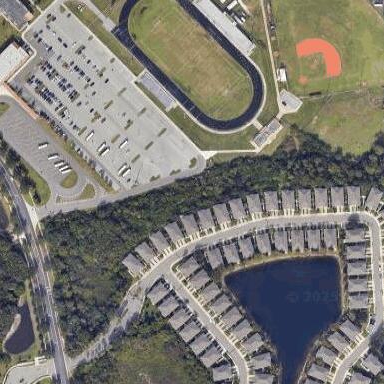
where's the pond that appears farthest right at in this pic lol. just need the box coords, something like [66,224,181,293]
[223,255,342,384]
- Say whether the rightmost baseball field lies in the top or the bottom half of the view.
top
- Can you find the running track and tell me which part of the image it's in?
top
